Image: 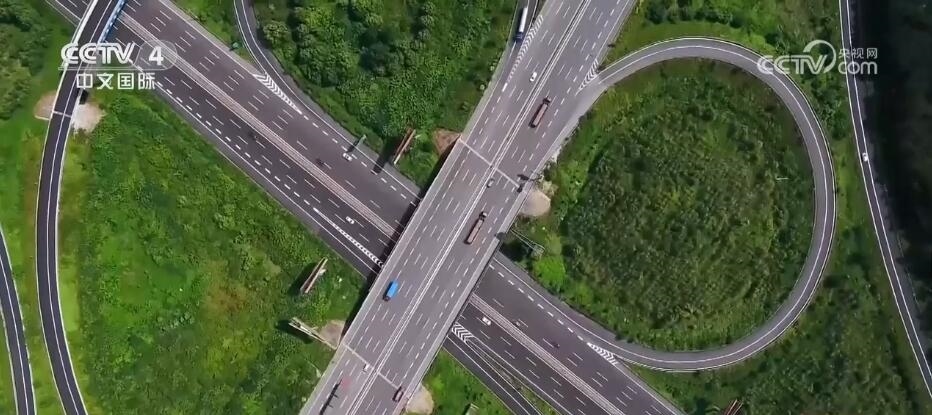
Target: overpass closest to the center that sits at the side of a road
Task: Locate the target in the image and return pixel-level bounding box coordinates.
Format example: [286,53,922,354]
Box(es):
[301,0,636,415]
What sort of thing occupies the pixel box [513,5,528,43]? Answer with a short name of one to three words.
vehicle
